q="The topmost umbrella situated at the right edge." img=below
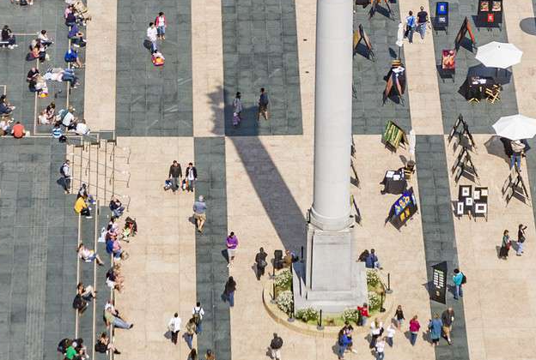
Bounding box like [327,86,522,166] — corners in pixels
[476,43,521,81]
